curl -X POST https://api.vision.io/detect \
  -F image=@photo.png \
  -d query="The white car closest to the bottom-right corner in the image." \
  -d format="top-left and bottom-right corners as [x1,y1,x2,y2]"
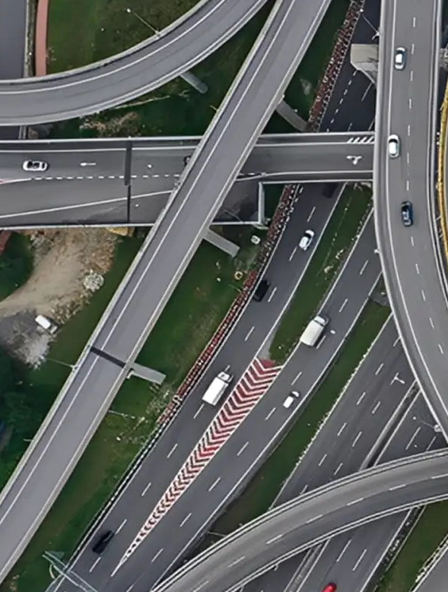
[282,389,299,410]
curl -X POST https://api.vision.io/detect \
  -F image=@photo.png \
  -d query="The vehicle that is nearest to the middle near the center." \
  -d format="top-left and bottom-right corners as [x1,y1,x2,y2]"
[252,275,271,301]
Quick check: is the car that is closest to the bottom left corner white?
No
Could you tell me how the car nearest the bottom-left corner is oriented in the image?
at an angle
